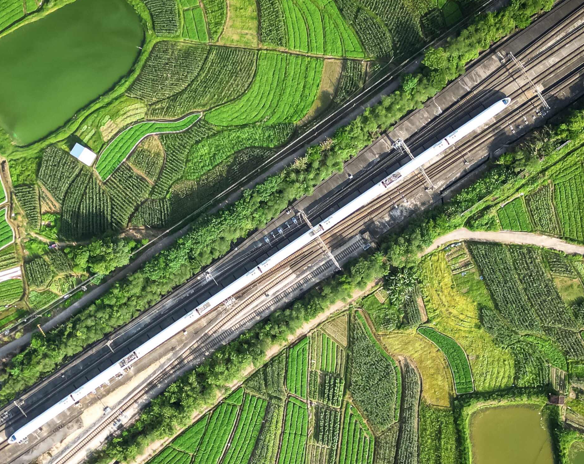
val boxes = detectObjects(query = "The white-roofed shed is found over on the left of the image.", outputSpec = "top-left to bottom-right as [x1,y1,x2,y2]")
[70,143,96,166]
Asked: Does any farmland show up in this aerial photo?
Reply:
Yes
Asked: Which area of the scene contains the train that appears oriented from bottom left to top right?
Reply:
center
